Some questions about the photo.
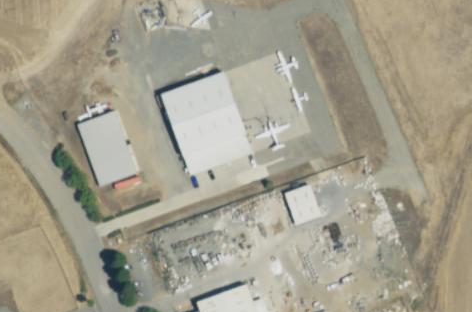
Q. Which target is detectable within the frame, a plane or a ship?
plane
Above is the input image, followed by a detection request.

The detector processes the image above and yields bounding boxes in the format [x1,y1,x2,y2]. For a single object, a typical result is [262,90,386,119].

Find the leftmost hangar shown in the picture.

[78,110,139,186]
